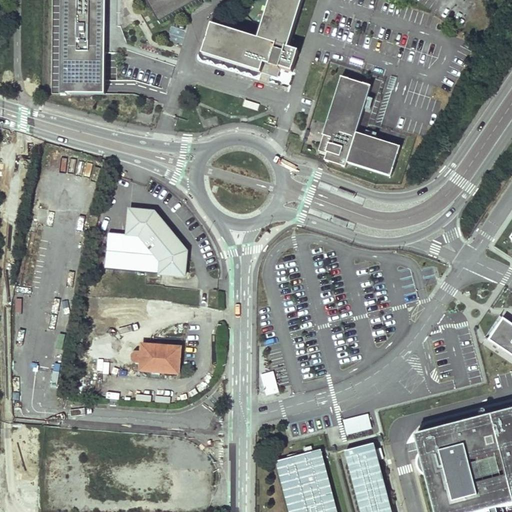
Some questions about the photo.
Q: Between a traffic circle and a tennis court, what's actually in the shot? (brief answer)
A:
traffic circle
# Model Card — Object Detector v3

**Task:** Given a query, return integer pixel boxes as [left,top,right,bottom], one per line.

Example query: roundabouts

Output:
[189,131,291,230]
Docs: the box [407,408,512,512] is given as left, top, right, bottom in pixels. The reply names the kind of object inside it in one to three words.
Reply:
building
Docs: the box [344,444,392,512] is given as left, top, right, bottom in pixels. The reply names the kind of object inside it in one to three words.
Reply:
shed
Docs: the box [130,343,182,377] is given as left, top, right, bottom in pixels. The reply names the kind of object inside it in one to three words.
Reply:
house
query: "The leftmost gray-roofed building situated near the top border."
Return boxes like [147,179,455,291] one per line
[52,0,106,95]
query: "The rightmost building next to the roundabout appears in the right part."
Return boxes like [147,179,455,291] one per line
[319,76,400,179]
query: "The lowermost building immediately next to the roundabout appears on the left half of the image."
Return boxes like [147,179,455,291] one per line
[104,207,189,278]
